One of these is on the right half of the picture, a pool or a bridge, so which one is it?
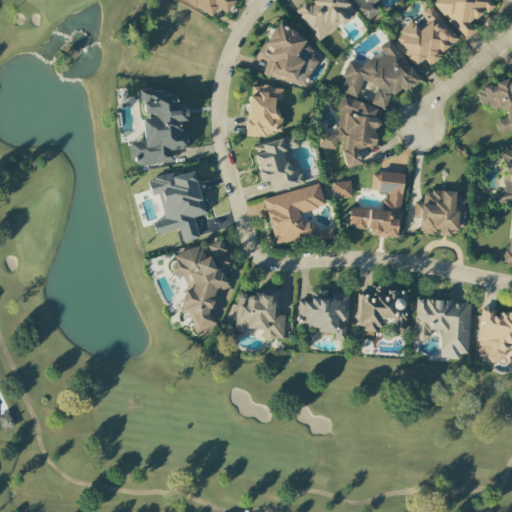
pool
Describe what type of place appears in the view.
residential area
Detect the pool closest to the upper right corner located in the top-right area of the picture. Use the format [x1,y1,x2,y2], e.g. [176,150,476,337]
[400,1,426,23]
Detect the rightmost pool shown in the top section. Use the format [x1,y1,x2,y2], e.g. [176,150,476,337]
[486,158,507,200]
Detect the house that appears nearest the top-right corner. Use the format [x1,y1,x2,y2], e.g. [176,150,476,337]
[436,0,500,39]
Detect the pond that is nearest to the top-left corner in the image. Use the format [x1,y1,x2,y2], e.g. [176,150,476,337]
[38,4,101,78]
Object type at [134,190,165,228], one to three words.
swimming pool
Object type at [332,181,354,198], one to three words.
shed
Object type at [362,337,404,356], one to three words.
swimming pool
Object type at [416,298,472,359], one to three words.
house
